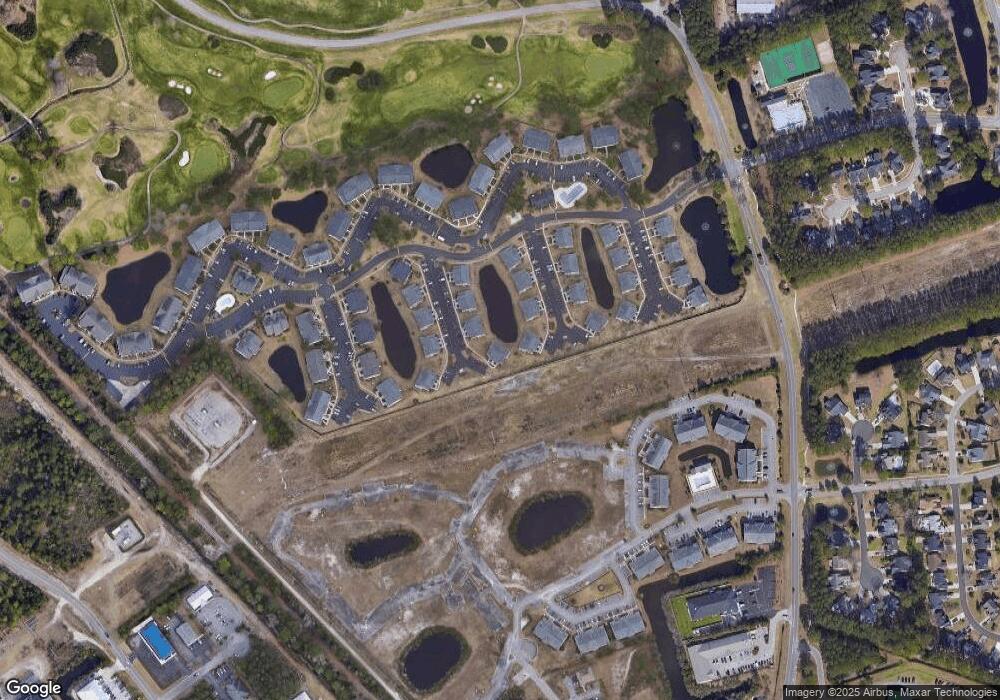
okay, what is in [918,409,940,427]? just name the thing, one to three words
house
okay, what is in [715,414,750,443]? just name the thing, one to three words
building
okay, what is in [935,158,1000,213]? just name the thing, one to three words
pond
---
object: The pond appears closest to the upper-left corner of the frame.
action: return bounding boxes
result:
[104,253,171,324]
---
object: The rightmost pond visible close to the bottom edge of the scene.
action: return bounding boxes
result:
[642,561,751,700]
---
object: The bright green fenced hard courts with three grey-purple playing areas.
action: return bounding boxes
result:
[760,38,820,88]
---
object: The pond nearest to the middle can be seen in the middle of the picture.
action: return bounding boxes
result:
[479,266,519,342]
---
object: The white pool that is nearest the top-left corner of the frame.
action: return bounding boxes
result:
[215,294,235,313]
